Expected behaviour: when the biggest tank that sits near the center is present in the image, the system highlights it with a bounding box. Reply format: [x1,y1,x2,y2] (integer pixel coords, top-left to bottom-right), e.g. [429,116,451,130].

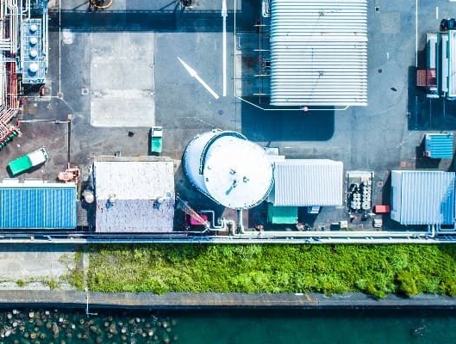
[176,124,279,211]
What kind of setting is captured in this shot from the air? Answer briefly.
industrial area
